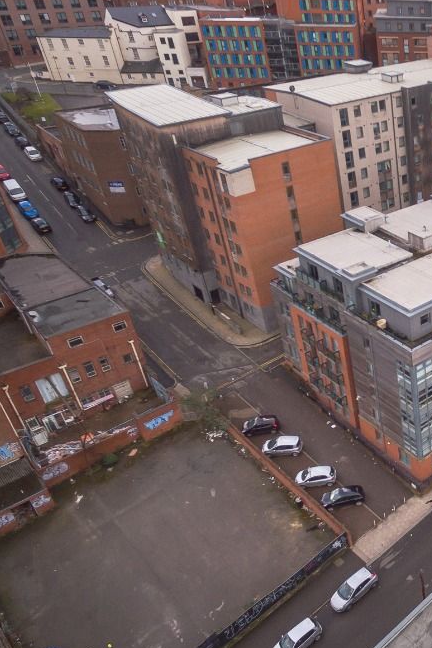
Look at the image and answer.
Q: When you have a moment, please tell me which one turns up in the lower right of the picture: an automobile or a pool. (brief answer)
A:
automobile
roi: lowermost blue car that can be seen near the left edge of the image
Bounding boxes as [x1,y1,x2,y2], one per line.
[16,199,39,219]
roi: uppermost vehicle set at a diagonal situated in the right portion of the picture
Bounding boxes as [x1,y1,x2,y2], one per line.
[329,566,381,614]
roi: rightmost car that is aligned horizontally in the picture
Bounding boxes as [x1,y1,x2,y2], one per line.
[317,484,369,510]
